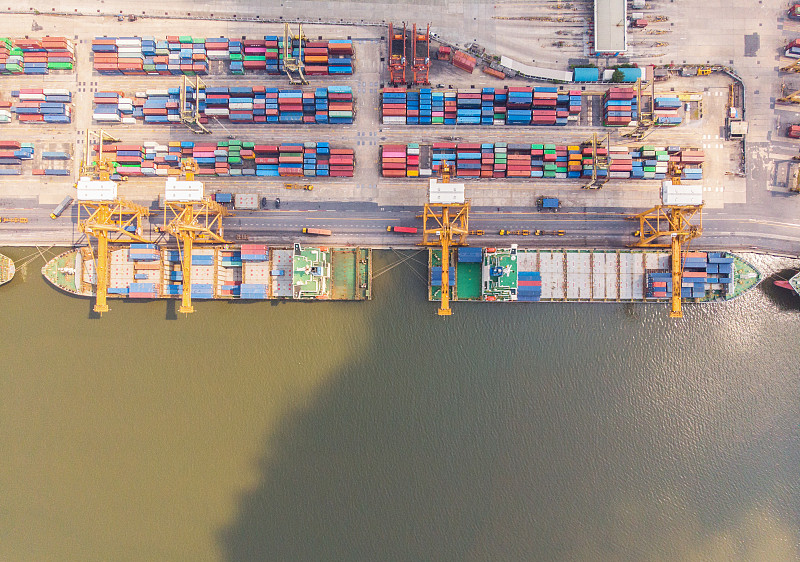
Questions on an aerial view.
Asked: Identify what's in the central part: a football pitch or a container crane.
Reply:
container crane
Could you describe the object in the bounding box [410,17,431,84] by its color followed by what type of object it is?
red crane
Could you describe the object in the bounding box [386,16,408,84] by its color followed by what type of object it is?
red crane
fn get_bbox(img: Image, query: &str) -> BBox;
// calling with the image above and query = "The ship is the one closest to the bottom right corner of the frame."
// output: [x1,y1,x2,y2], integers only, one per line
[774,268,800,295]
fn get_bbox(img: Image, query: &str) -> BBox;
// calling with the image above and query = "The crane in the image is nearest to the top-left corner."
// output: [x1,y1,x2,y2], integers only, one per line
[81,123,125,181]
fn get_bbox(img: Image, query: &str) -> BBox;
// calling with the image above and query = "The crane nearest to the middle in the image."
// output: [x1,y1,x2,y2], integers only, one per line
[414,160,477,318]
